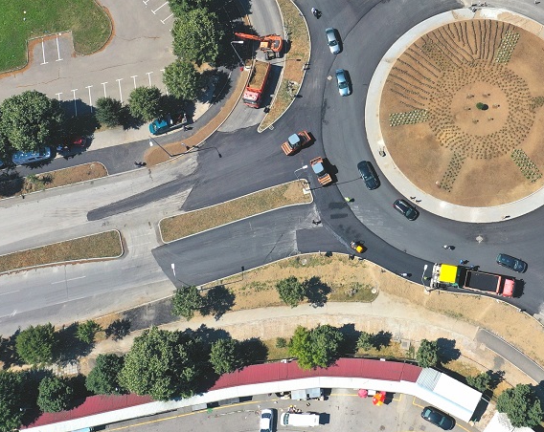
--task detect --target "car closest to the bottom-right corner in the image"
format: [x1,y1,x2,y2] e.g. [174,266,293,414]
[421,405,453,432]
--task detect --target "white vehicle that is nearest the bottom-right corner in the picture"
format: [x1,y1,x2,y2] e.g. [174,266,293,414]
[279,411,321,429]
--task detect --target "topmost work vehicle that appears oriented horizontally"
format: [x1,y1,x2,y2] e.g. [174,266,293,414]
[234,37,288,58]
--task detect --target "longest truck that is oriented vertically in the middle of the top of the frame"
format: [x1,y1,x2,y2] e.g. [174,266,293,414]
[241,56,273,110]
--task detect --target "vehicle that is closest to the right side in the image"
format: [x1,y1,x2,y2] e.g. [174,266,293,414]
[497,251,527,273]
